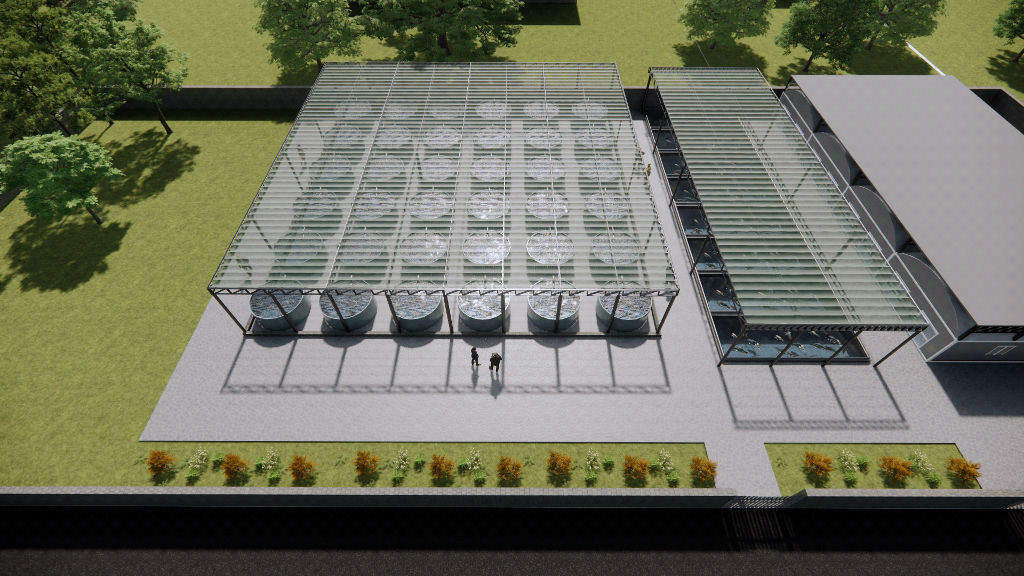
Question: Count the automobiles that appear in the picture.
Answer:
zero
